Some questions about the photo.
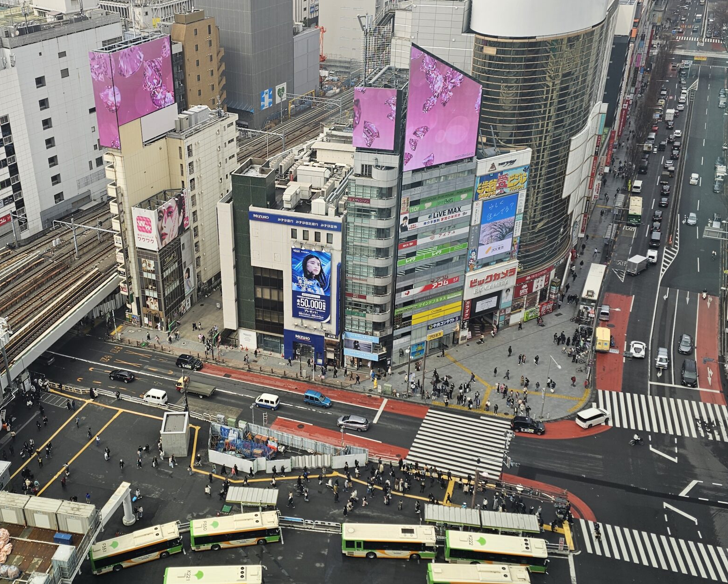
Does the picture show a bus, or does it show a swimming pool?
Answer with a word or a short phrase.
bus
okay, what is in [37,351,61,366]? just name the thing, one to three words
car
